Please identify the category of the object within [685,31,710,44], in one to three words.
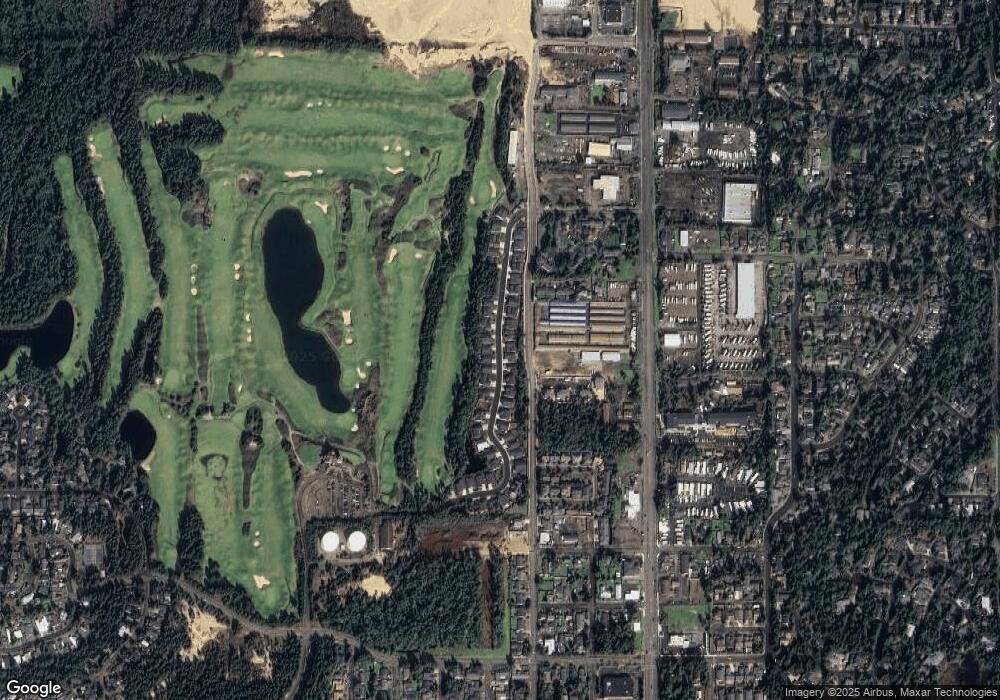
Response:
building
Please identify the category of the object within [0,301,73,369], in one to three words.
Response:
pond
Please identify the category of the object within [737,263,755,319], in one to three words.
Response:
building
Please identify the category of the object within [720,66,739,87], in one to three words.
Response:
shed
